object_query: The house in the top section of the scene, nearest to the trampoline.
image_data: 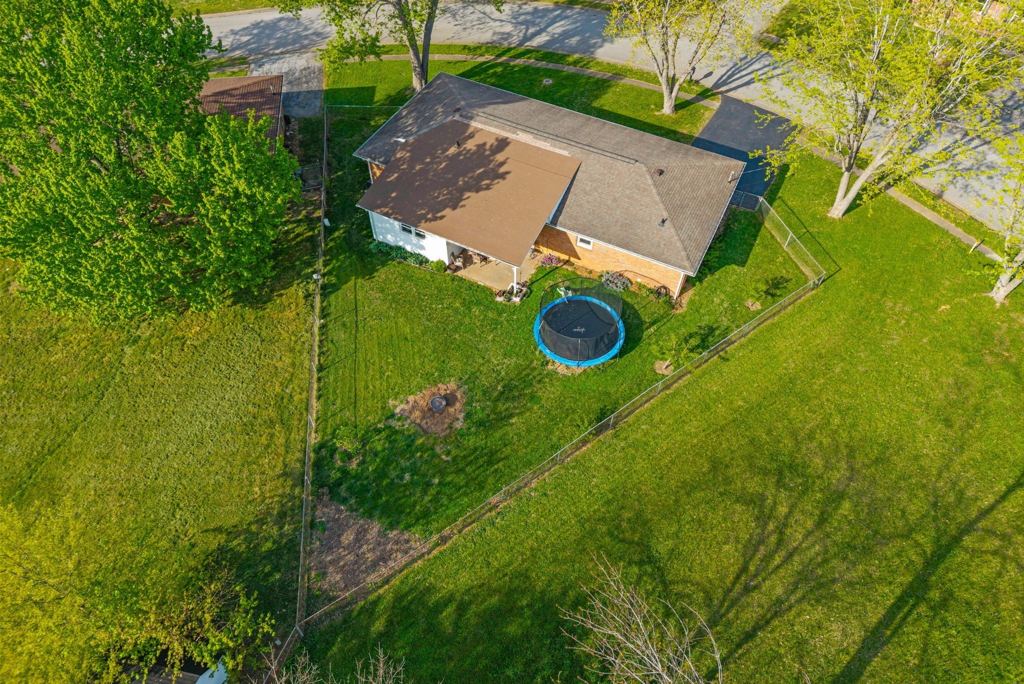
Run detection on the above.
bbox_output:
[353,72,750,304]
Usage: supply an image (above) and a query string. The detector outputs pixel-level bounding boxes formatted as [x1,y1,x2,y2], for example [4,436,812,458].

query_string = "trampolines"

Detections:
[533,275,624,374]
